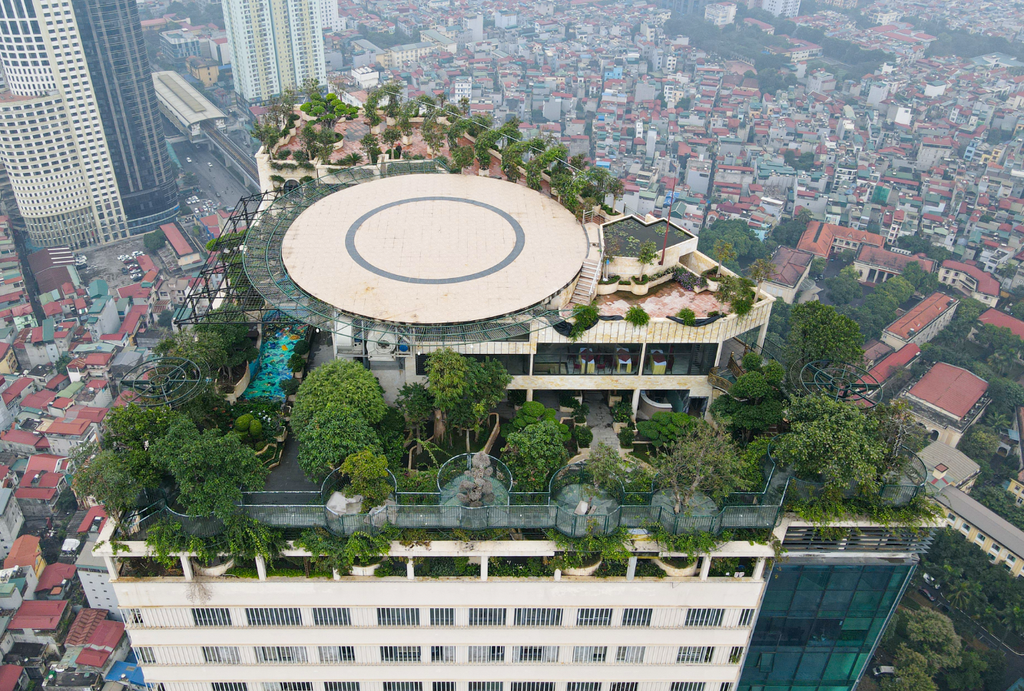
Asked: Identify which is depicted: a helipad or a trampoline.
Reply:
helipad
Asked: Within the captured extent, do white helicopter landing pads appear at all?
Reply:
Yes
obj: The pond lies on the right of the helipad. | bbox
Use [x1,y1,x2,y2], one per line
[600,214,700,278]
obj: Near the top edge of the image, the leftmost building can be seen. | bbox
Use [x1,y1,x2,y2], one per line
[0,0,126,251]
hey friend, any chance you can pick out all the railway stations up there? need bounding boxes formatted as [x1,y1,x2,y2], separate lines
[154,65,255,148]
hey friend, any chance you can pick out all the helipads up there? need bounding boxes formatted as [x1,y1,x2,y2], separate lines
[281,174,587,334]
